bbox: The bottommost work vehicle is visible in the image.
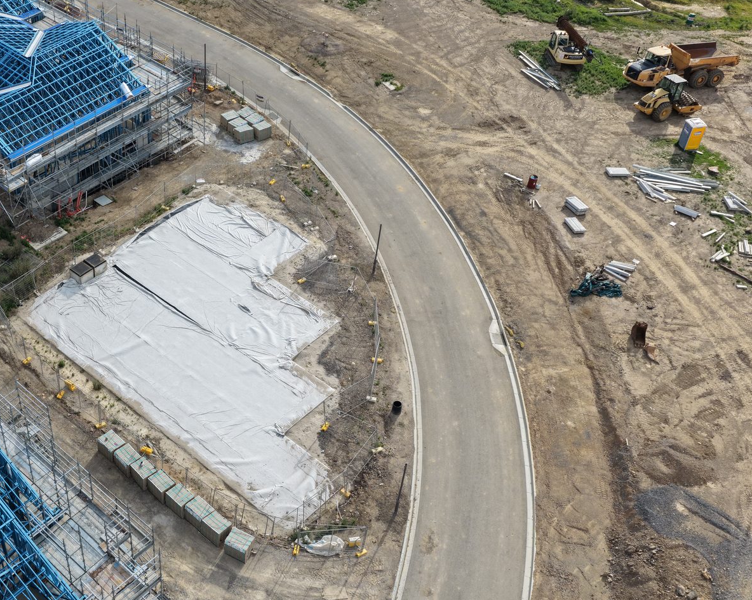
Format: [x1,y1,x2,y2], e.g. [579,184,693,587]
[633,77,712,123]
